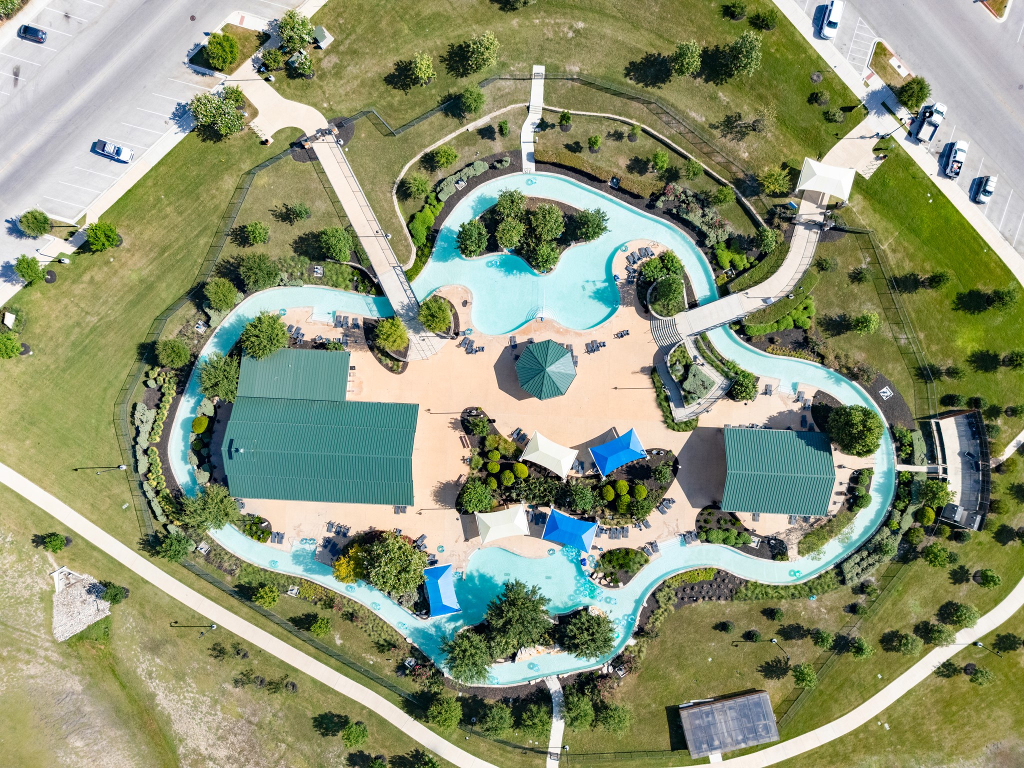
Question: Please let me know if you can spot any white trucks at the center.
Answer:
No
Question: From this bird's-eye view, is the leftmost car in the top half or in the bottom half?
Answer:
top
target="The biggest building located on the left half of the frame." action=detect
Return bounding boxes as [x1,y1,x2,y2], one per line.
[221,349,419,506]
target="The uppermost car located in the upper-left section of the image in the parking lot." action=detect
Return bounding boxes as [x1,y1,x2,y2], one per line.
[16,23,52,46]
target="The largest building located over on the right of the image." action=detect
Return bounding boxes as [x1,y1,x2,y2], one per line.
[721,427,836,516]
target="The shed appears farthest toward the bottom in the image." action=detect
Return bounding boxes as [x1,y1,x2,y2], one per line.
[676,685,780,759]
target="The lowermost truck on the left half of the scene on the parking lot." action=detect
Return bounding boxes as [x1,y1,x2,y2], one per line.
[92,137,138,164]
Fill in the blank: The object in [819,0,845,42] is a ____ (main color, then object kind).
white car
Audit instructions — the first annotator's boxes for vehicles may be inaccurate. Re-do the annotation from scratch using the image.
[914,100,948,145]
[972,171,999,208]
[16,23,52,46]
[943,138,970,182]
[92,137,138,164]
[819,0,845,42]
